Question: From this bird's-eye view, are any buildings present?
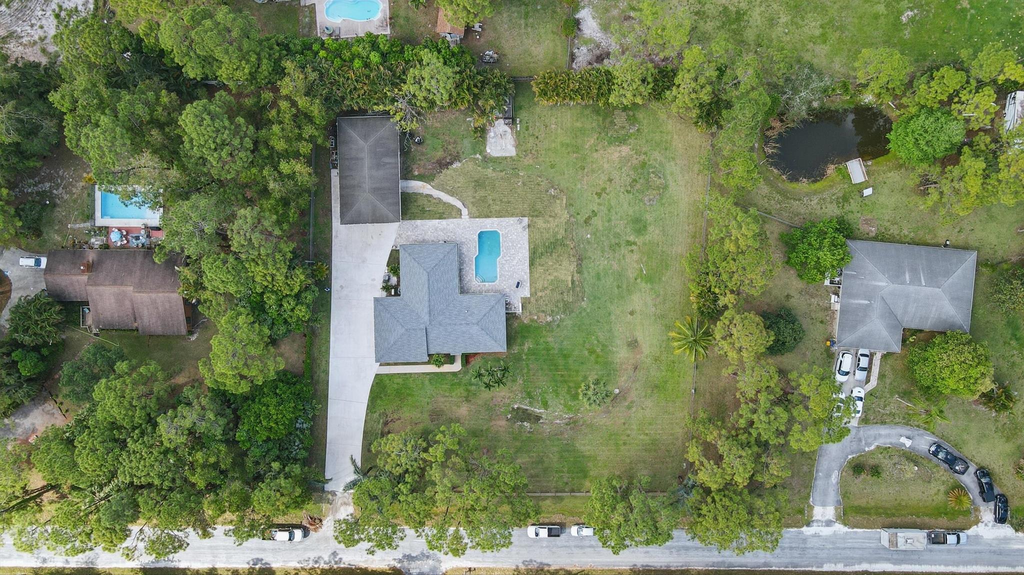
Yes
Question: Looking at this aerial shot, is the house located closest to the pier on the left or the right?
right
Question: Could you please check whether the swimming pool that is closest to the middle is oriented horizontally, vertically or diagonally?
vertically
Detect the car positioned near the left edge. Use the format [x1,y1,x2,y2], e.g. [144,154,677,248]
[17,254,44,269]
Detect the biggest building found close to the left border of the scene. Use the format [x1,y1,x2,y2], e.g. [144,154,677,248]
[44,249,192,335]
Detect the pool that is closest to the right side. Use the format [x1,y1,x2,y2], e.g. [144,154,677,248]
[473,228,502,285]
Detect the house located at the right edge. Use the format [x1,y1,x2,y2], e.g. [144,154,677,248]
[832,239,977,353]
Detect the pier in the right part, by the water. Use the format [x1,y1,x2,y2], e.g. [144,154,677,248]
[844,157,870,184]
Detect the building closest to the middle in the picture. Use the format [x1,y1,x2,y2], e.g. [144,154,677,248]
[373,242,507,363]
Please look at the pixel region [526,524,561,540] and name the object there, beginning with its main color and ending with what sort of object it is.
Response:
white vehicle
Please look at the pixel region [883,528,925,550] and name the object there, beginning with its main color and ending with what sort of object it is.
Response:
white trailer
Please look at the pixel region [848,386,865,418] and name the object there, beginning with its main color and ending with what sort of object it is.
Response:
white car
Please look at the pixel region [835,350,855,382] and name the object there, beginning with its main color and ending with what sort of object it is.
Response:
white car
